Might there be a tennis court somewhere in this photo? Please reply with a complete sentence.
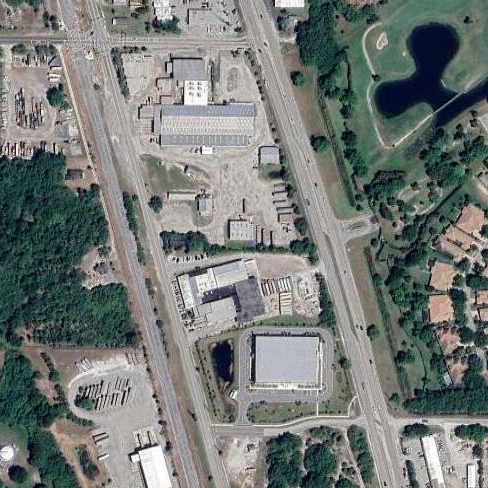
No, the scene contains no tennis court.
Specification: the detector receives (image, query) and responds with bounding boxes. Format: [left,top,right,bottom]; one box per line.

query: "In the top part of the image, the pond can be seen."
[375,22,488,123]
